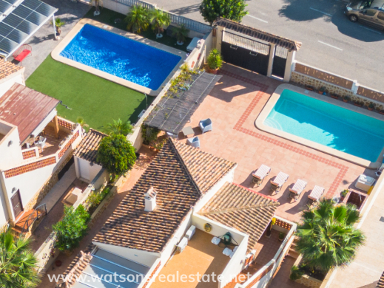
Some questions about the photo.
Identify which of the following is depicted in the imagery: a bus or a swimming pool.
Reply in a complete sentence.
This aerial view contains a swimming pool.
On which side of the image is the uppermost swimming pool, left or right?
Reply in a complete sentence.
It is on the left.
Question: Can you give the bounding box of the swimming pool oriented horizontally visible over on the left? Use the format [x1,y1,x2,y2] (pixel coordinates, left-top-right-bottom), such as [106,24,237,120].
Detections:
[49,18,183,94]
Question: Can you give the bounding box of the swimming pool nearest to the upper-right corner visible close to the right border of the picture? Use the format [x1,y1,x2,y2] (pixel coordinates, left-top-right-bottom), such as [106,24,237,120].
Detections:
[254,82,384,171]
